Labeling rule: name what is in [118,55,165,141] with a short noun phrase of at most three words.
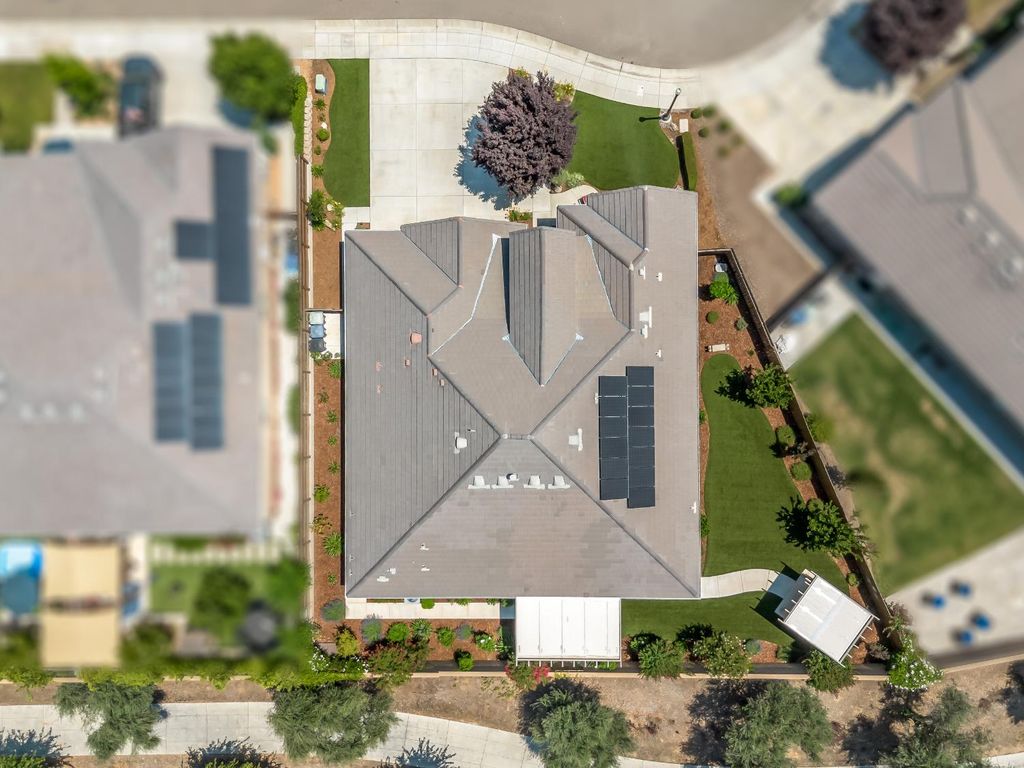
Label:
car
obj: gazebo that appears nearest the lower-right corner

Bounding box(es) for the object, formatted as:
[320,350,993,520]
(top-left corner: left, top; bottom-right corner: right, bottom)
[776,571,878,666]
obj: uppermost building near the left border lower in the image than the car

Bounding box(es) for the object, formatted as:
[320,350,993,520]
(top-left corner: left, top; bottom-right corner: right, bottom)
[0,126,260,537]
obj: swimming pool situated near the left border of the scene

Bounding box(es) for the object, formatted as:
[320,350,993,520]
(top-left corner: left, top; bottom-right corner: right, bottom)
[0,567,46,614]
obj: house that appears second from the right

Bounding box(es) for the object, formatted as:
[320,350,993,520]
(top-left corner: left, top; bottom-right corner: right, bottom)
[342,185,702,599]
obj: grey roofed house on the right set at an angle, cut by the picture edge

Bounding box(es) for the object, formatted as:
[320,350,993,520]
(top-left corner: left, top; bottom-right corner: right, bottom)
[806,0,1024,433]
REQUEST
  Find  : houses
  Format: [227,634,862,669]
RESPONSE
[806,0,1024,433]
[342,185,702,599]
[0,126,260,537]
